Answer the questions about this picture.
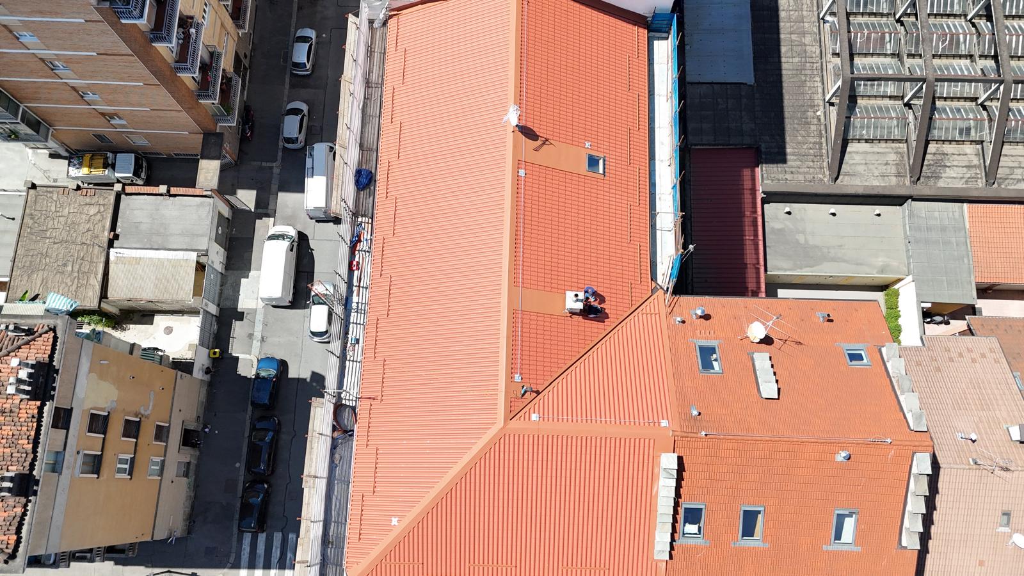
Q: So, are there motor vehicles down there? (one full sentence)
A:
Yes, looking at the shot, I can spot a motor vehicle.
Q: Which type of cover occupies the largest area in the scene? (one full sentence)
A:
For the most part, this view shows buildings.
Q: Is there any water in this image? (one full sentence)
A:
No, the scene doesn't show any water.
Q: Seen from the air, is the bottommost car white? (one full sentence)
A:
No, the bottommost car is actually black.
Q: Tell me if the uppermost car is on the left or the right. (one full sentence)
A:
The uppermost car sits on the left side.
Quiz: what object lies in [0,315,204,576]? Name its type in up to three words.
house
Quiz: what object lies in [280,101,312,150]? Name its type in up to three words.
car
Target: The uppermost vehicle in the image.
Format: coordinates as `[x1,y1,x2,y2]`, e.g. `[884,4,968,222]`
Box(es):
[289,27,321,77]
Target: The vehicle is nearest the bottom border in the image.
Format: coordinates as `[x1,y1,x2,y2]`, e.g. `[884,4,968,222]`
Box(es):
[237,481,274,532]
